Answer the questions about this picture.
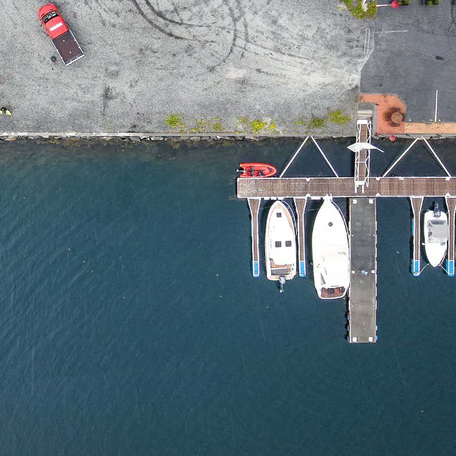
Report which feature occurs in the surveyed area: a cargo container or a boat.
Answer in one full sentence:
There is a boat in the scene.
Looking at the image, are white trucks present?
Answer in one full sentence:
No, the frame has no white truck in it.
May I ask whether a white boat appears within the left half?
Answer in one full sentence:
No, within the left half there is no white boat.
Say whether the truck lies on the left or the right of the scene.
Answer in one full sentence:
The truck is on the left side of the image.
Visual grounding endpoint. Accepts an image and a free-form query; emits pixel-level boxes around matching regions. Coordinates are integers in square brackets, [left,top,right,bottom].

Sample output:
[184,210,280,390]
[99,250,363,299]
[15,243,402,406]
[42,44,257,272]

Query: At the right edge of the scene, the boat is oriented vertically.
[420,203,447,267]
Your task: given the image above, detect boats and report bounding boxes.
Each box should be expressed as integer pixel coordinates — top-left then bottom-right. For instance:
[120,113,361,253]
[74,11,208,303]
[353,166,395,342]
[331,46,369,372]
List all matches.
[263,202,296,291]
[233,163,277,177]
[420,203,447,267]
[311,195,353,299]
